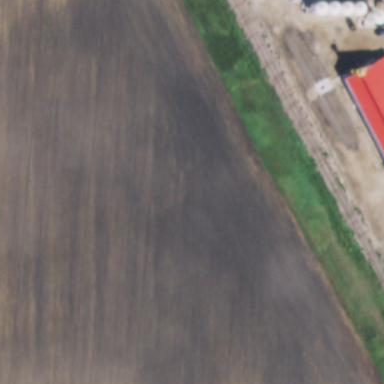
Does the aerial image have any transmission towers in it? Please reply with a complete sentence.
No, no transmission tower is visible in the view.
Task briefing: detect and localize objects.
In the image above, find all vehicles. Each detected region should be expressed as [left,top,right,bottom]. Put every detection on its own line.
[344,16,356,30]
[374,27,384,34]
